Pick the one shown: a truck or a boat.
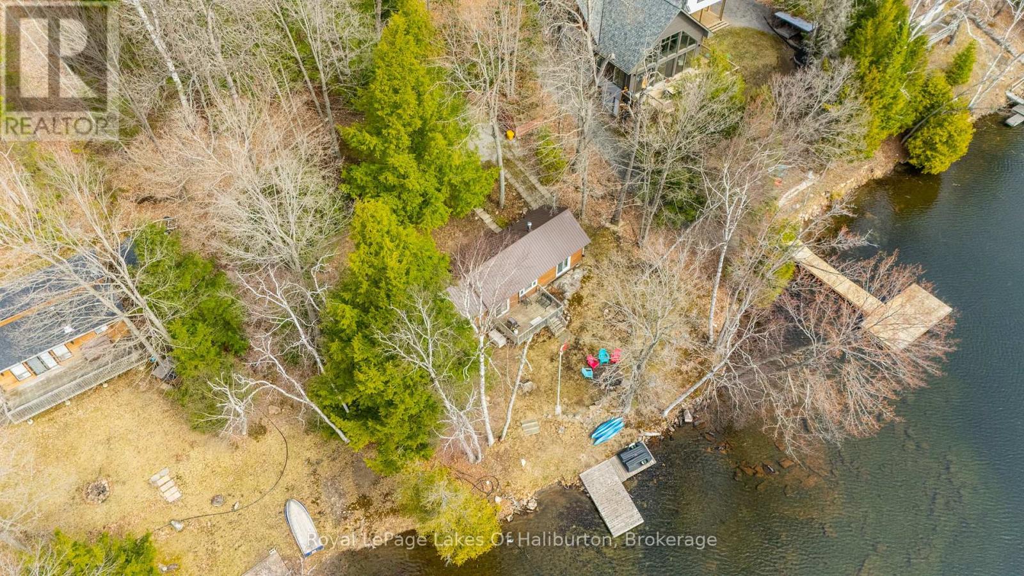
boat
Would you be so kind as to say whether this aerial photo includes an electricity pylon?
No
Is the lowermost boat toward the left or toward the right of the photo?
left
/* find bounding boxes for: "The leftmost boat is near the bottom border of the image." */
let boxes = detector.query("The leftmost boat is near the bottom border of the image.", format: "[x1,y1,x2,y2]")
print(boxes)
[285,496,319,554]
